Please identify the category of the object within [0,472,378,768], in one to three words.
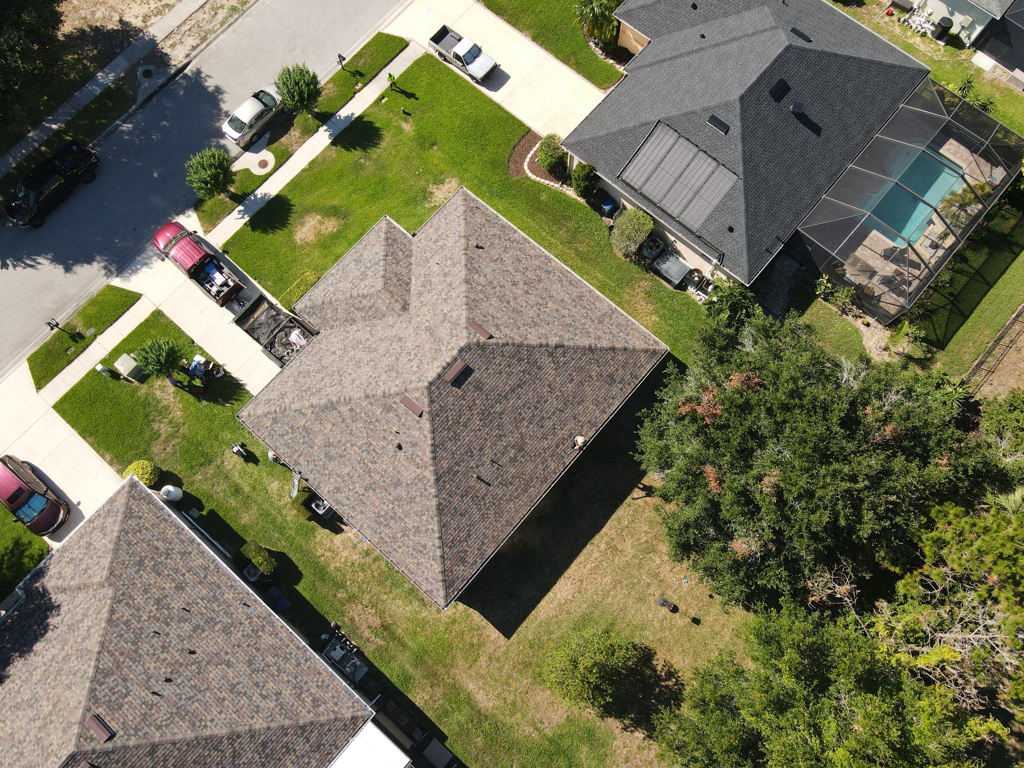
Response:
house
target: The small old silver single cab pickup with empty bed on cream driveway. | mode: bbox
[429,24,499,85]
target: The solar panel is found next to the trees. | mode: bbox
[614,112,745,274]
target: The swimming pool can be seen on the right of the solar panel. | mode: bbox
[851,144,968,250]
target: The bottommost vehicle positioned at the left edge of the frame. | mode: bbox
[0,452,74,537]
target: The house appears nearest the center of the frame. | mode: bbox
[234,185,670,611]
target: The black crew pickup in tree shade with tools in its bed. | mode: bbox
[4,139,103,235]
